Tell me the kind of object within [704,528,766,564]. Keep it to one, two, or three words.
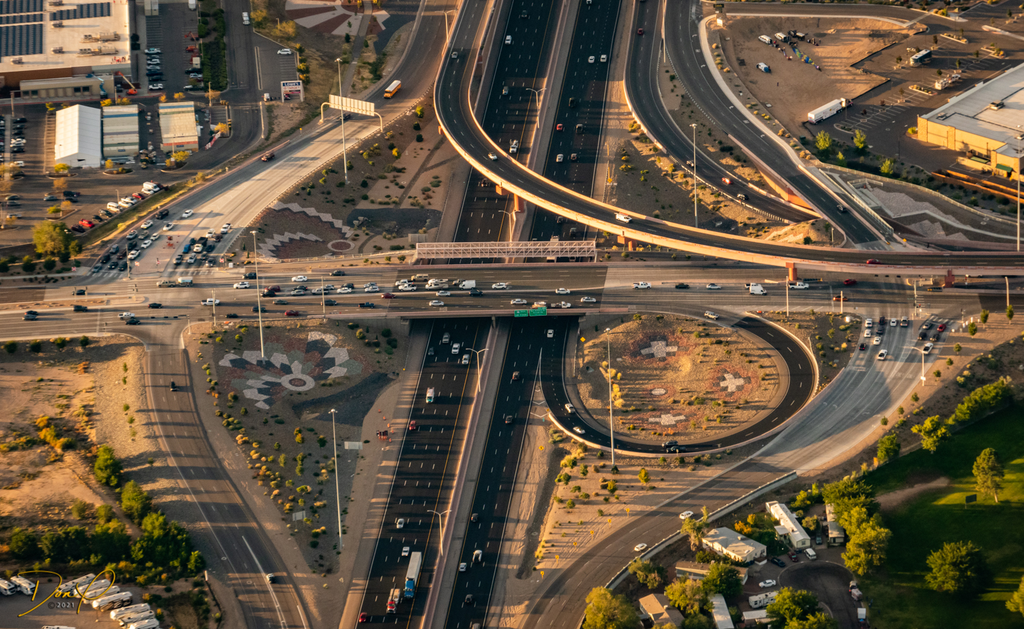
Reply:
house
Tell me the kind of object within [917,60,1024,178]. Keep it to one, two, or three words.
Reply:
building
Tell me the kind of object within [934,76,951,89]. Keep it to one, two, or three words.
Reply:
vehicle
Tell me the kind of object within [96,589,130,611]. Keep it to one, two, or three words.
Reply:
camper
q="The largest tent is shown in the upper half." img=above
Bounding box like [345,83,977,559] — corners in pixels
[54,104,101,168]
